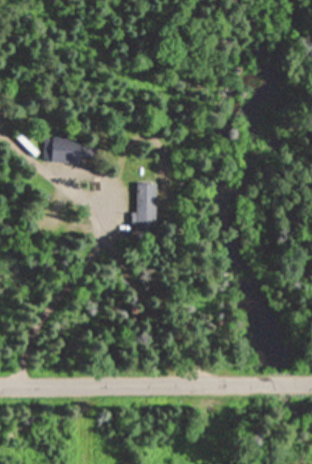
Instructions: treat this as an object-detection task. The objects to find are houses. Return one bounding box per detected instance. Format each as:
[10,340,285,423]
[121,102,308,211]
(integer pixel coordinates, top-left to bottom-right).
[132,182,158,222]
[52,136,94,164]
